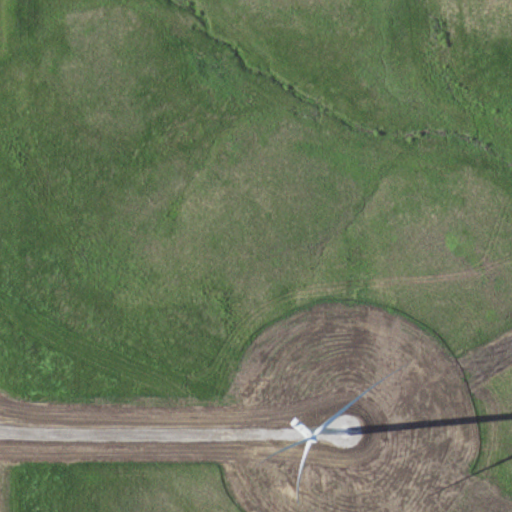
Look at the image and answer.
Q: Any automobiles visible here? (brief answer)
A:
No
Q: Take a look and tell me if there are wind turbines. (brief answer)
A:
Yes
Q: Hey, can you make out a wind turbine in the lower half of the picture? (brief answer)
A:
Yes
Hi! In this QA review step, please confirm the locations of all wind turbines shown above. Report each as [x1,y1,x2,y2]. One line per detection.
[262,368,401,501]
